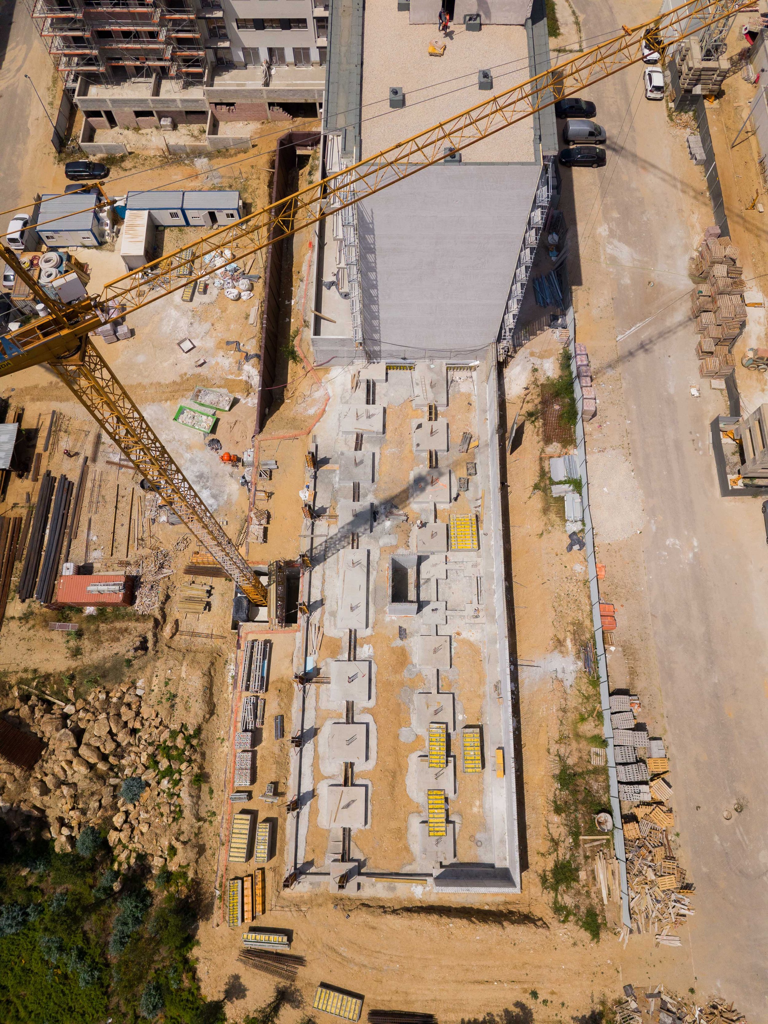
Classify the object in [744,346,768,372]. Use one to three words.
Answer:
truck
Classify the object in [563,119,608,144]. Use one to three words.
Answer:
car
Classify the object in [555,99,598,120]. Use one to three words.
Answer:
car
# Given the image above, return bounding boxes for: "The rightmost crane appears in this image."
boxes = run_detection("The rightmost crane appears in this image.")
[720,405,768,493]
